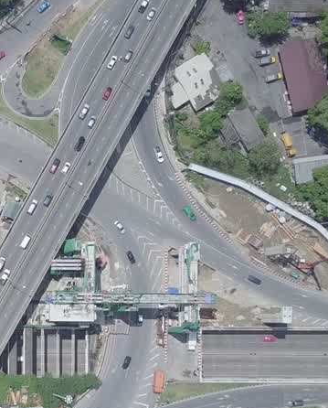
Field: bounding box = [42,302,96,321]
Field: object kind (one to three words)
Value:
building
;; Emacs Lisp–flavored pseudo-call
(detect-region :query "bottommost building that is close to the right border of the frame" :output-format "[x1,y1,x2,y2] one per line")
[289,155,328,184]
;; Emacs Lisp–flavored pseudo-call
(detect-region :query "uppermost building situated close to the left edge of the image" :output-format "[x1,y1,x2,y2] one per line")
[0,198,22,219]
